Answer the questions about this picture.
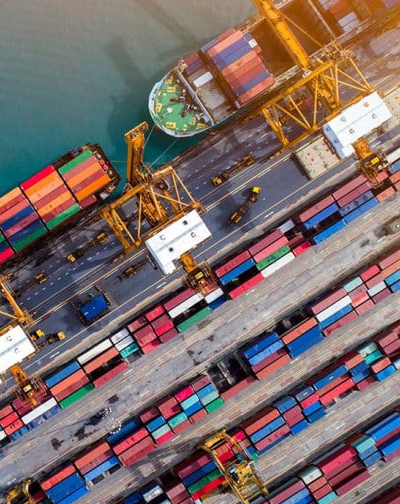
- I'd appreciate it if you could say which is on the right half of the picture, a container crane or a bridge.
container crane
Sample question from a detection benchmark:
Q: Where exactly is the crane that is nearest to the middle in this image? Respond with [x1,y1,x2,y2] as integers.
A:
[80,114,216,294]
